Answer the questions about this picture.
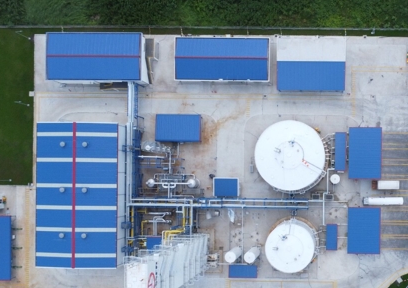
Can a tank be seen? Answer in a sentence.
Yes, looking at the shot, I can spot a tank.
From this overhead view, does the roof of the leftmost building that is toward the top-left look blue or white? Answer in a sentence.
The roof of the leftmost building that is toward the top-left looks blue in the image.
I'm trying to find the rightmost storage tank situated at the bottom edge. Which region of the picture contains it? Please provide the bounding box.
[264,217,327,274]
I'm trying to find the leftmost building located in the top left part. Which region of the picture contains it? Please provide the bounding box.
[45,31,146,84]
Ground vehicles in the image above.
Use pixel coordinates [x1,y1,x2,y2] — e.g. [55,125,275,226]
[370,180,399,190]
[362,196,403,207]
